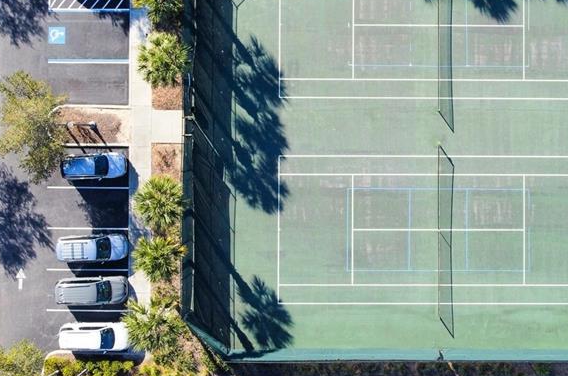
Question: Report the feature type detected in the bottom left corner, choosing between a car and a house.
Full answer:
You can see a car in the bottom left corner.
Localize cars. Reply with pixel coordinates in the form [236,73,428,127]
[61,320,134,353]
[58,276,130,308]
[62,149,130,180]
[59,231,131,263]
